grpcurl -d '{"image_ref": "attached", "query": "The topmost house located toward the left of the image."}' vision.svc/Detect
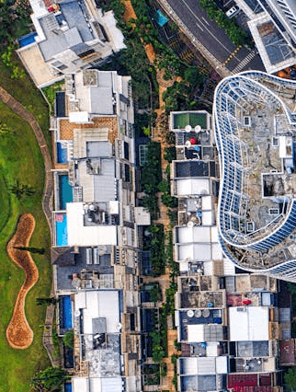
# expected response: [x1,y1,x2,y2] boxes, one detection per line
[15,0,128,92]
